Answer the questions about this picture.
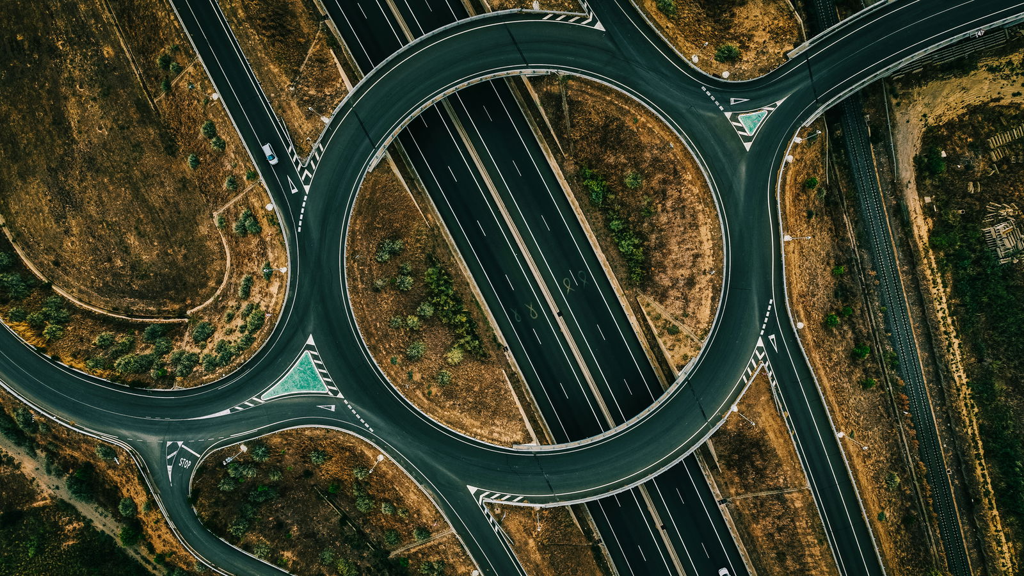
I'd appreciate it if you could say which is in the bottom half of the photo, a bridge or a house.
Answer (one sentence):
The one visible in the bottom half of the photo is a bridge.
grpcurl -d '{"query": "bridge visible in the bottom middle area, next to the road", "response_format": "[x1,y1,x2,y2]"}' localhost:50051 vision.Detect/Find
[511,354,729,510]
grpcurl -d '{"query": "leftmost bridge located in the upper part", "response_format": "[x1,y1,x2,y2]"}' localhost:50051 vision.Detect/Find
[333,6,551,165]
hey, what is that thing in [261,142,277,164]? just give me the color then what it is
white car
